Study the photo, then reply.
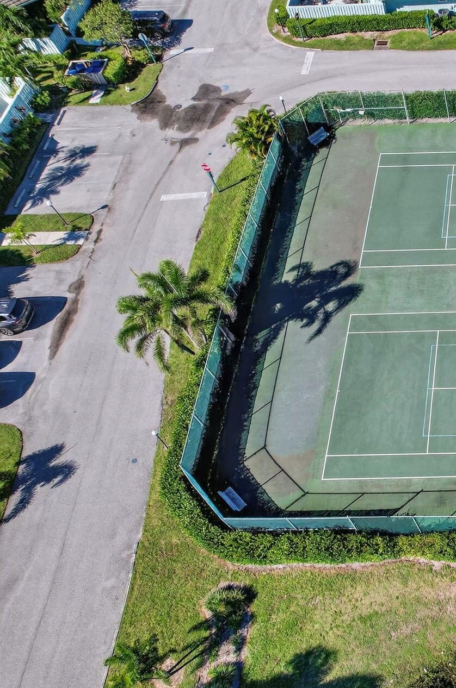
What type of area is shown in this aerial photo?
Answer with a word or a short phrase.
sports ground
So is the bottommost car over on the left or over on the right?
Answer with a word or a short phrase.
left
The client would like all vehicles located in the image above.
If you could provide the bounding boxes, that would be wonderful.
[125,14,176,46]
[0,295,40,334]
